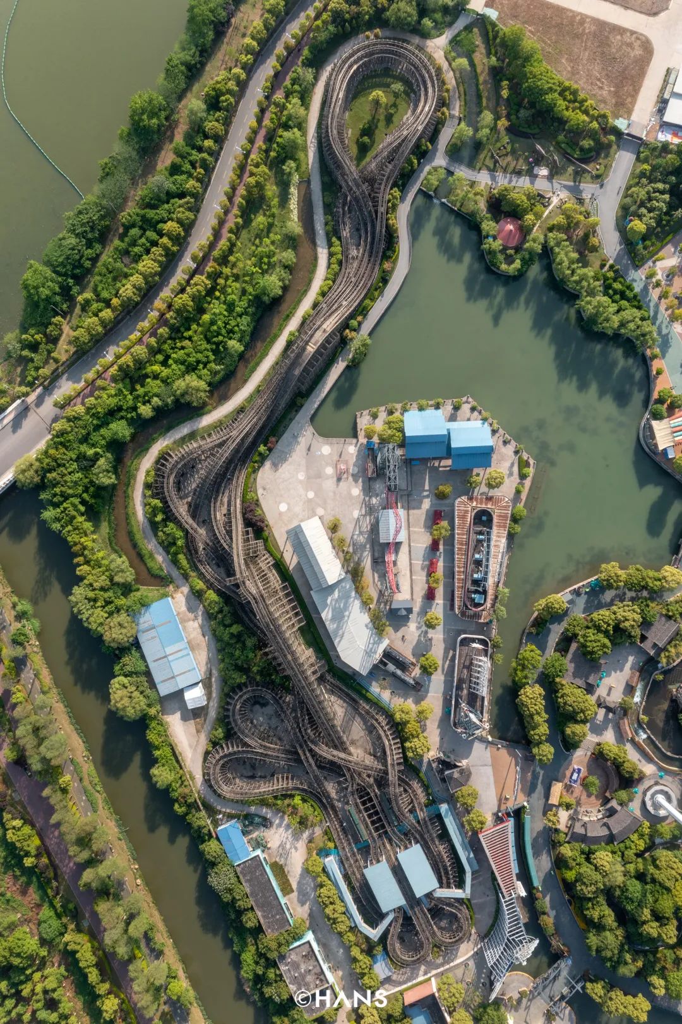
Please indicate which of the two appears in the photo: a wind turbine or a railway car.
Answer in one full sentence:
The image shows a railway car.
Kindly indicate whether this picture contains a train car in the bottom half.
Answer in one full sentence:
Yes, I can see a train car in the bottom half.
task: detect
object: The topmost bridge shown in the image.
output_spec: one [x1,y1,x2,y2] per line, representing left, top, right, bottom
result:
[0,387,54,488]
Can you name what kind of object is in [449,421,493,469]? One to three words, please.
shed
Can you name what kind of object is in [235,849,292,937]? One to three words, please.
building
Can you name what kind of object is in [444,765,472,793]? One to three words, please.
house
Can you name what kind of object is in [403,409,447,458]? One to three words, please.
shed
